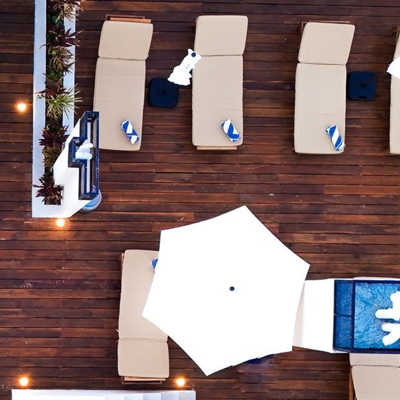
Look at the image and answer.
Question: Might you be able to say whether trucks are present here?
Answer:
No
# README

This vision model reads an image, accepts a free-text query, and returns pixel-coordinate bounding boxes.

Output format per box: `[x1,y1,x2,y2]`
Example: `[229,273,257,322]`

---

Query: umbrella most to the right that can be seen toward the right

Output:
[347,55,400,100]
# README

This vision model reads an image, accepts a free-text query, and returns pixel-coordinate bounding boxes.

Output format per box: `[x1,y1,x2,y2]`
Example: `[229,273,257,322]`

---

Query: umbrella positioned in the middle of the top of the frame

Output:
[149,52,197,107]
